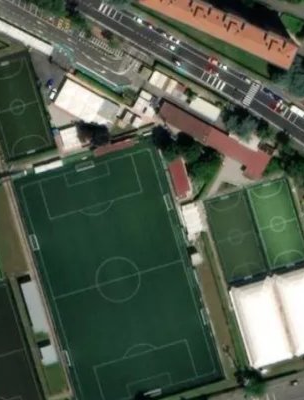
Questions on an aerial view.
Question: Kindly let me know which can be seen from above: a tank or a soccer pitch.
soccer pitch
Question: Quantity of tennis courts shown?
0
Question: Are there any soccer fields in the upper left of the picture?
Yes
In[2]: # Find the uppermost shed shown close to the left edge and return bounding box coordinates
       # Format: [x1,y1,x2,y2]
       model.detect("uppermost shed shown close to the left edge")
[0,20,54,56]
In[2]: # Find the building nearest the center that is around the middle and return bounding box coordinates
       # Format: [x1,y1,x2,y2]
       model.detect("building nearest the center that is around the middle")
[169,160,189,197]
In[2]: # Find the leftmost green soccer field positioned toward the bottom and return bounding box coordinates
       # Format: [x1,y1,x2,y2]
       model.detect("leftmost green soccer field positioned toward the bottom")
[14,145,226,400]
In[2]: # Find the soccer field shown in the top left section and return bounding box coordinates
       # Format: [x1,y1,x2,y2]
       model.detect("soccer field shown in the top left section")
[0,51,56,163]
